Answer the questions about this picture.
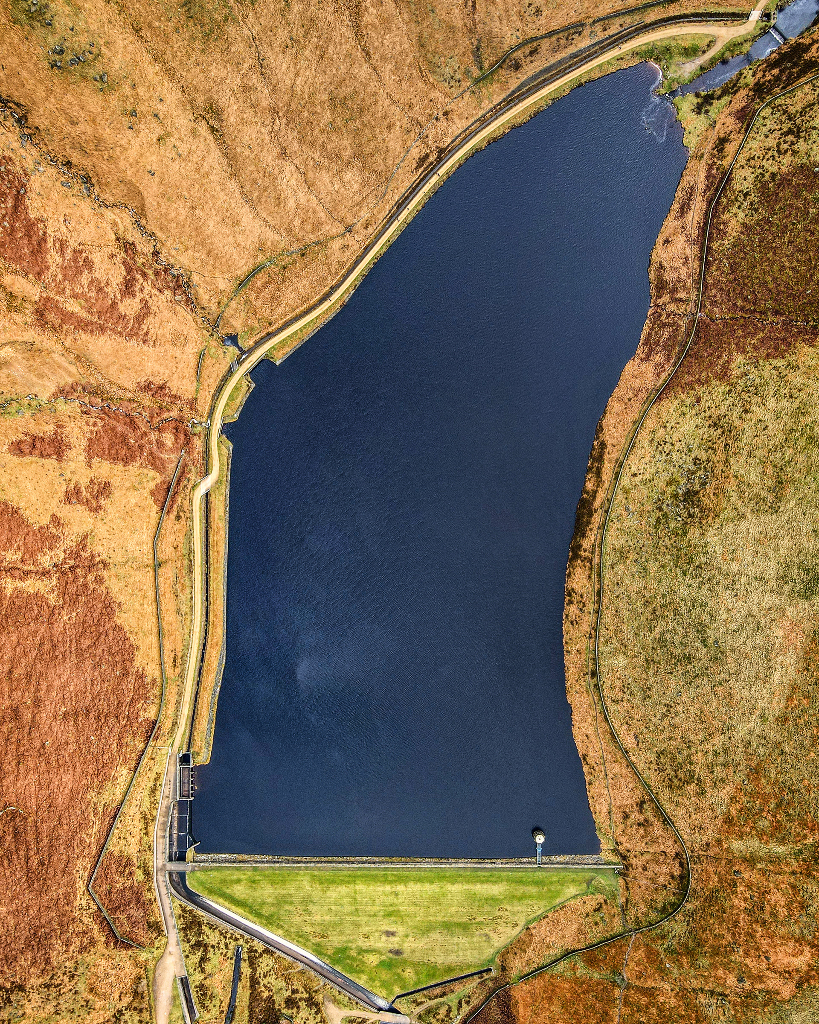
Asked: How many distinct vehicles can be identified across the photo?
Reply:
0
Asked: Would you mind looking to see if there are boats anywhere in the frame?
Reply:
No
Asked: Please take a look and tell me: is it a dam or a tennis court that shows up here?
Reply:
dam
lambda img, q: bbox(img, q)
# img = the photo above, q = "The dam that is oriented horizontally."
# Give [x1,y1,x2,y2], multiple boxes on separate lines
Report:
[190,853,624,1001]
